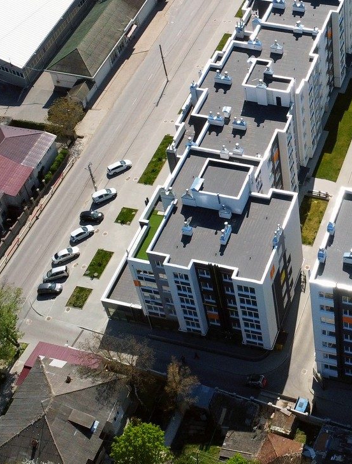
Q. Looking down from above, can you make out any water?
No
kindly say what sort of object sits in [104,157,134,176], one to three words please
car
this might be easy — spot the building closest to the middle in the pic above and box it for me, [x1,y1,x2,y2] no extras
[101,149,303,350]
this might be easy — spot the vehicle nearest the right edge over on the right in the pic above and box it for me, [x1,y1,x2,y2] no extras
[292,392,311,420]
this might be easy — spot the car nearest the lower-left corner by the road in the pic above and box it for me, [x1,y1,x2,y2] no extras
[32,279,66,296]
